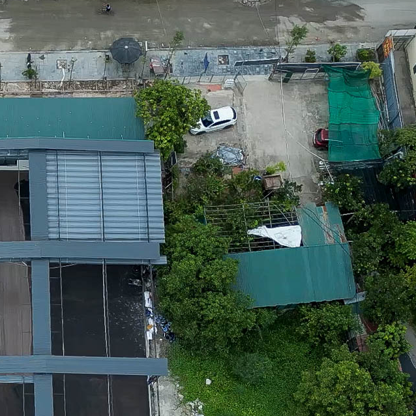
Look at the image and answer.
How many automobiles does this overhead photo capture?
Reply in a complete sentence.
The photo contains 2 automobiles.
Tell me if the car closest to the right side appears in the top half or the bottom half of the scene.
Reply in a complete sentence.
It is in the top half that the car closest to the right side appears.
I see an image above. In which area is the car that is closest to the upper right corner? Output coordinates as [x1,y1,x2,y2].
[308,126,328,151]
